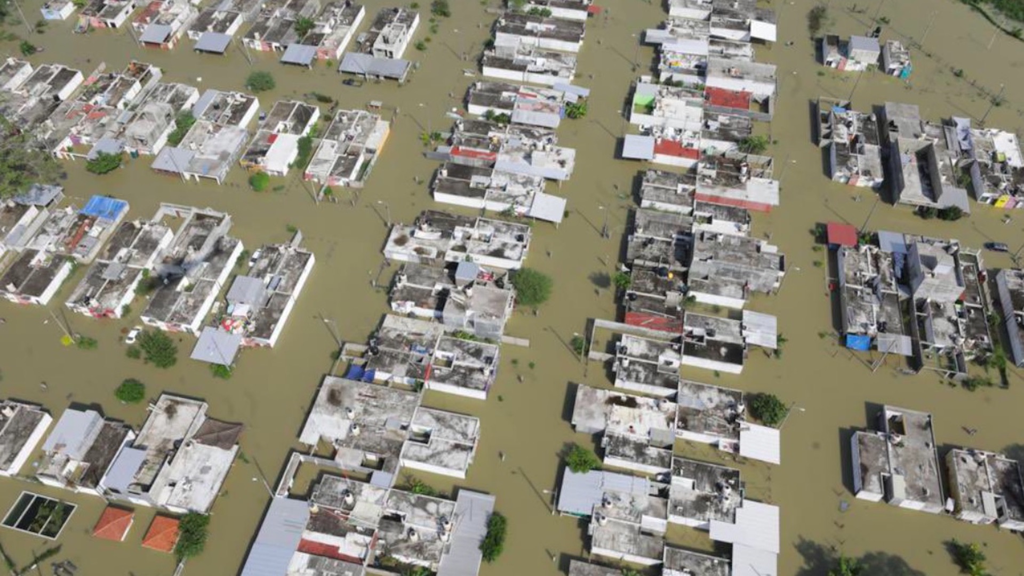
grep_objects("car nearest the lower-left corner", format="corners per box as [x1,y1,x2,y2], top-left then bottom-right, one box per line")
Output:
[125,326,143,346]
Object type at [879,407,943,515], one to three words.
house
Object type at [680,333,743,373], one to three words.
house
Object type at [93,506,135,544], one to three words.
building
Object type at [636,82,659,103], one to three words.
shed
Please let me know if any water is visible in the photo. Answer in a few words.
Yes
